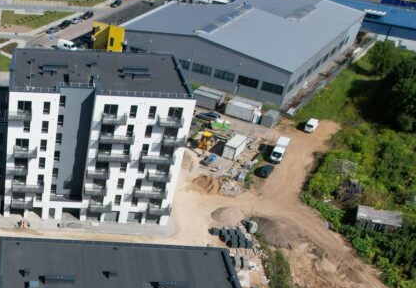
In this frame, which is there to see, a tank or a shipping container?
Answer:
shipping container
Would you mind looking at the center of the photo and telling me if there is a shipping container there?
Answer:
Yes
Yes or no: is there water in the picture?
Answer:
No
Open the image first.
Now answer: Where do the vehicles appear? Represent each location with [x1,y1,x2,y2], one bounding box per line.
[192,111,215,121]
[80,12,95,19]
[69,17,83,24]
[304,116,317,132]
[255,165,271,178]
[193,133,214,148]
[272,131,291,158]
[57,37,76,48]
[44,28,61,35]
[58,21,74,29]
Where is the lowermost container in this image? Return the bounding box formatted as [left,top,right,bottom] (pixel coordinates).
[220,134,249,159]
